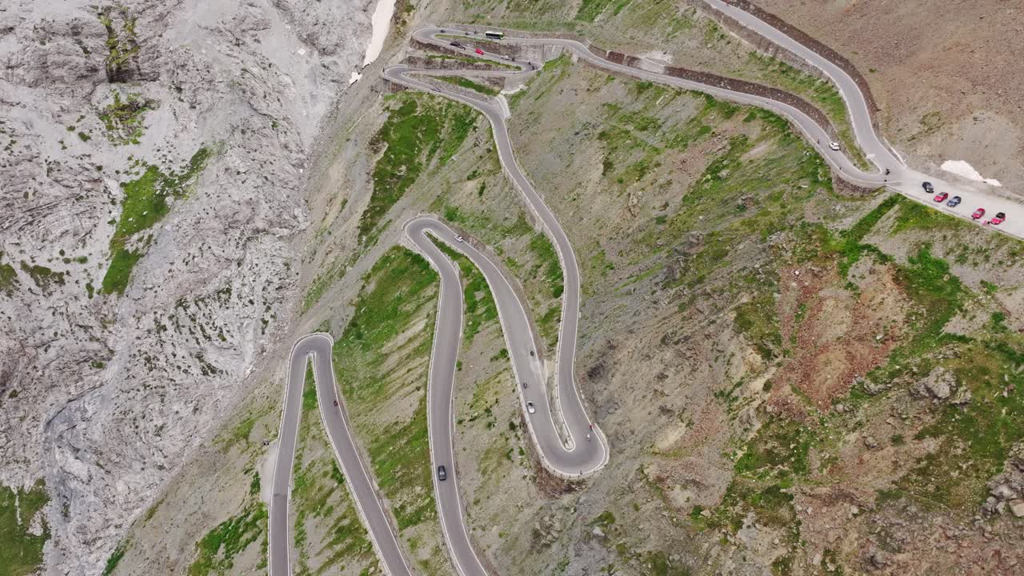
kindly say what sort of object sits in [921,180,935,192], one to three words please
vehicle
